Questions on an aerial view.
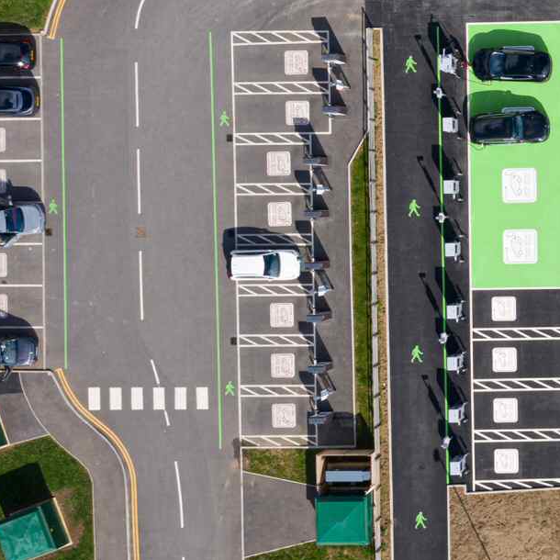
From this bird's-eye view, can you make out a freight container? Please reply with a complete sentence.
No, I can see no freight container in this picture.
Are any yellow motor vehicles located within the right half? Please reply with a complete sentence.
No, I see no yellow motor vehicle within the right half.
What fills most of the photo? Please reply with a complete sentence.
For the most part, this view shows paved ground.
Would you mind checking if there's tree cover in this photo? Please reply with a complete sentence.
No, no tree cover is visible.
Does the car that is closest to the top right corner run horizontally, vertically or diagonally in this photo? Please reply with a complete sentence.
In this picture, the car that is closest to the top right corner is oriented horizontally.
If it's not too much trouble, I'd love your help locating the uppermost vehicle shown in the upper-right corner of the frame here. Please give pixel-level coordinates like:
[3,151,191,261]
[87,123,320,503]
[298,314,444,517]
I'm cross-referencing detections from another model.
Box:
[475,44,551,81]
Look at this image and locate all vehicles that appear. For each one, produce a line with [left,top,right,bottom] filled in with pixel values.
[228,247,302,284]
[0,39,36,70]
[0,194,46,250]
[0,85,39,117]
[475,44,551,81]
[0,334,41,382]
[468,107,550,144]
